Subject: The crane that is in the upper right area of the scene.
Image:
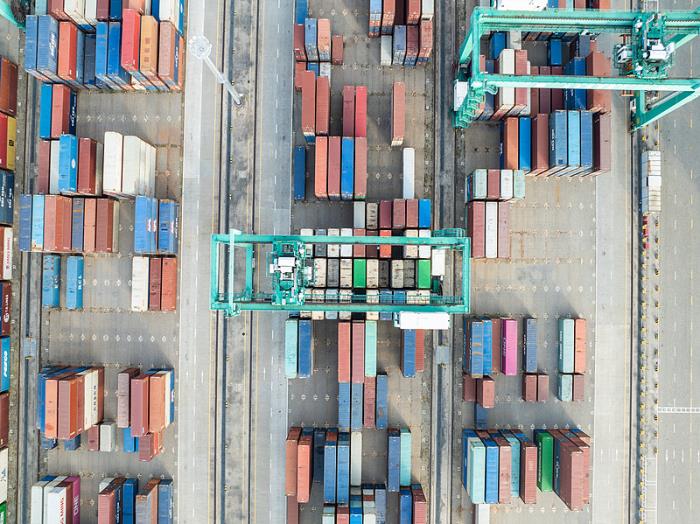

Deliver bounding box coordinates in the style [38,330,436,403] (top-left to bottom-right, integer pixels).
[447,0,700,125]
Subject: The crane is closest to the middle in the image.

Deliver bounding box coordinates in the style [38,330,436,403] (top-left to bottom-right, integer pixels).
[208,229,470,329]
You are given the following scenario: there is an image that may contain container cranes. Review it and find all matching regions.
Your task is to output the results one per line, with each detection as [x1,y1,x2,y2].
[447,0,700,125]
[0,0,27,34]
[208,229,470,329]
